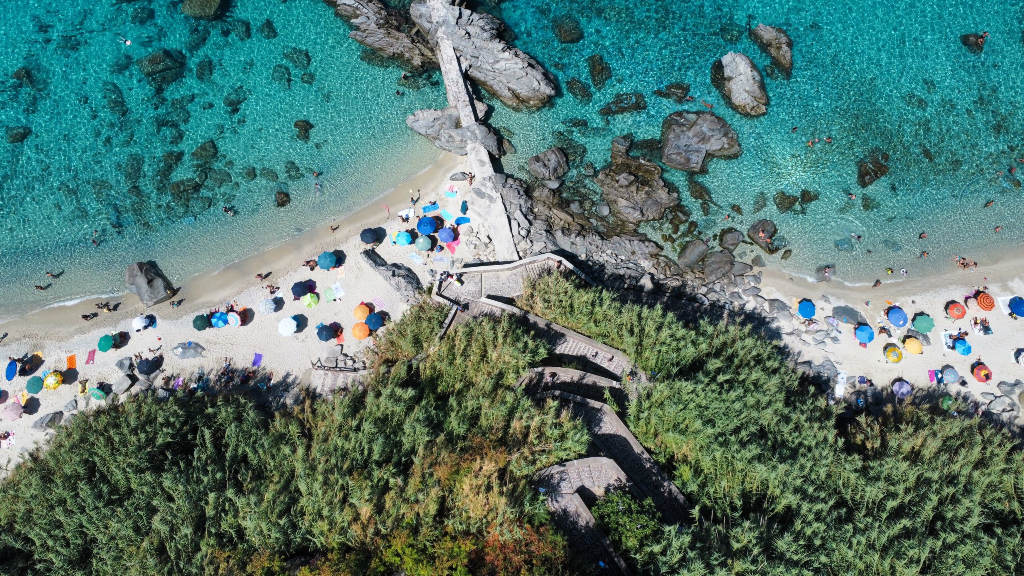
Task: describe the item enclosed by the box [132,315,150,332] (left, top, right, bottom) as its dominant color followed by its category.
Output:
white umbrella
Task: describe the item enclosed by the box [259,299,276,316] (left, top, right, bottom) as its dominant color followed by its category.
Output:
white umbrella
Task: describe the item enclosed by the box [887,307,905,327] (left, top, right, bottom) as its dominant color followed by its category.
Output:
blue umbrella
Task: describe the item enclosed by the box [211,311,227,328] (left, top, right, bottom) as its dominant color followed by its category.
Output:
blue umbrella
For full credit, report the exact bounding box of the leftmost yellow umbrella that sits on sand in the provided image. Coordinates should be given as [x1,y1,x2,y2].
[45,372,64,390]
